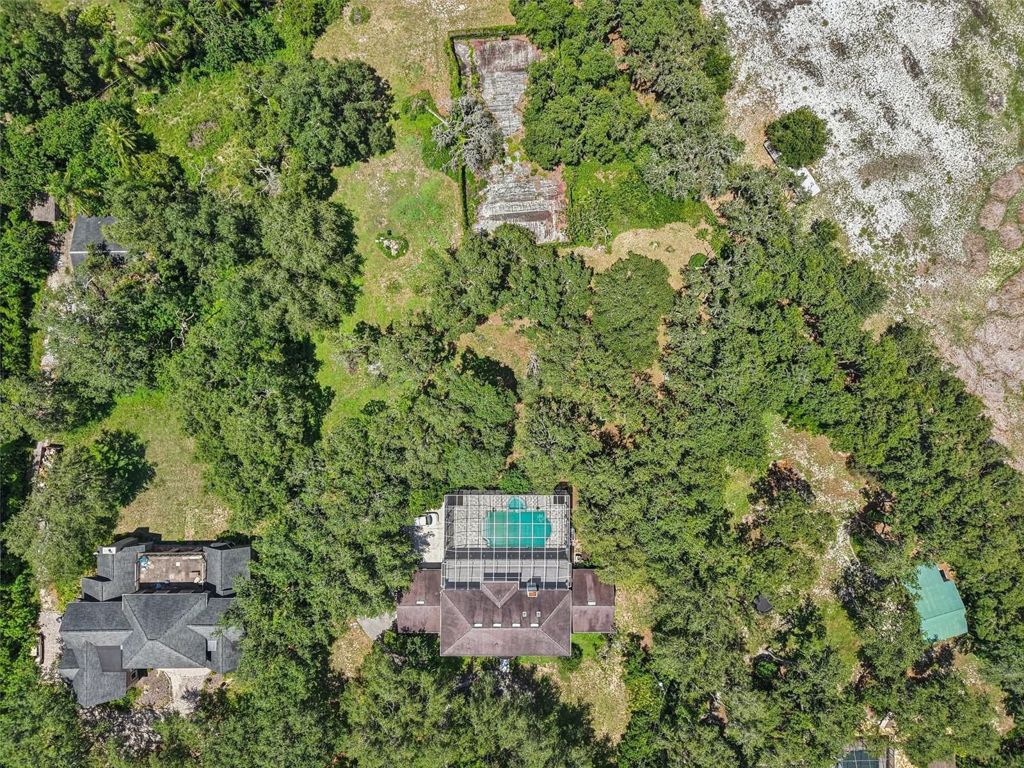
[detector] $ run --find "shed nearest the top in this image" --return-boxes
[32,193,65,223]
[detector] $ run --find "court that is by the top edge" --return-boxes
[456,36,572,242]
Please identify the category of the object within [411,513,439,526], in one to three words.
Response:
vehicle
